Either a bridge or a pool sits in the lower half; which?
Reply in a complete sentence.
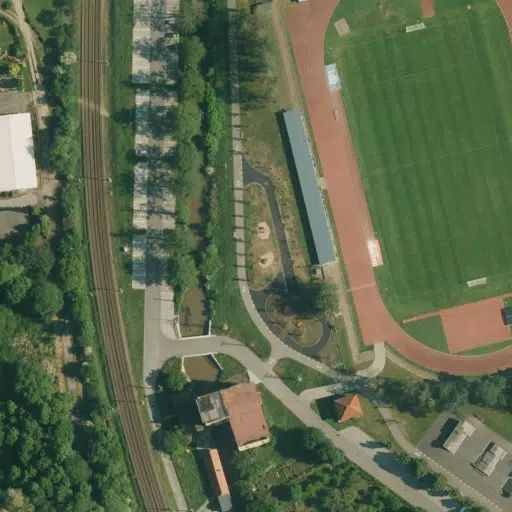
It is a bridge that can be seen in the lower half.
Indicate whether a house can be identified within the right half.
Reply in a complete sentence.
Yes, a house can be seen within the right half.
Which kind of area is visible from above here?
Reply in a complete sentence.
The area seen from above is a sports ground.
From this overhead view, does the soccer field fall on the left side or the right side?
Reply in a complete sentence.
You can find the soccer field on the right side of the picture.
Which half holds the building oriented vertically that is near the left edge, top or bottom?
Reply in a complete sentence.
The top half of the photo is where the building oriented vertically that is near the left edge is.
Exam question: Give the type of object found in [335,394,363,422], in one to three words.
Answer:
house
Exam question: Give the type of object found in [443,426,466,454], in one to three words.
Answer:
building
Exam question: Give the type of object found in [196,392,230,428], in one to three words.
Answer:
building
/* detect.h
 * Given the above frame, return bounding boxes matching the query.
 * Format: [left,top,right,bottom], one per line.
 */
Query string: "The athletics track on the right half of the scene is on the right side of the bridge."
[284,0,512,376]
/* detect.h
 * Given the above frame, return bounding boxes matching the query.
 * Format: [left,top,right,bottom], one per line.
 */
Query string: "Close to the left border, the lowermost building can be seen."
[0,112,38,194]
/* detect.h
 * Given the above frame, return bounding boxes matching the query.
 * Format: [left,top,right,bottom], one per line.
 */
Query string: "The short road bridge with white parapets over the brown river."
[178,316,223,384]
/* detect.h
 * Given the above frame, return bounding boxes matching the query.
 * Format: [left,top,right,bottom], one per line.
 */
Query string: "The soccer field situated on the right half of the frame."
[324,0,512,356]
